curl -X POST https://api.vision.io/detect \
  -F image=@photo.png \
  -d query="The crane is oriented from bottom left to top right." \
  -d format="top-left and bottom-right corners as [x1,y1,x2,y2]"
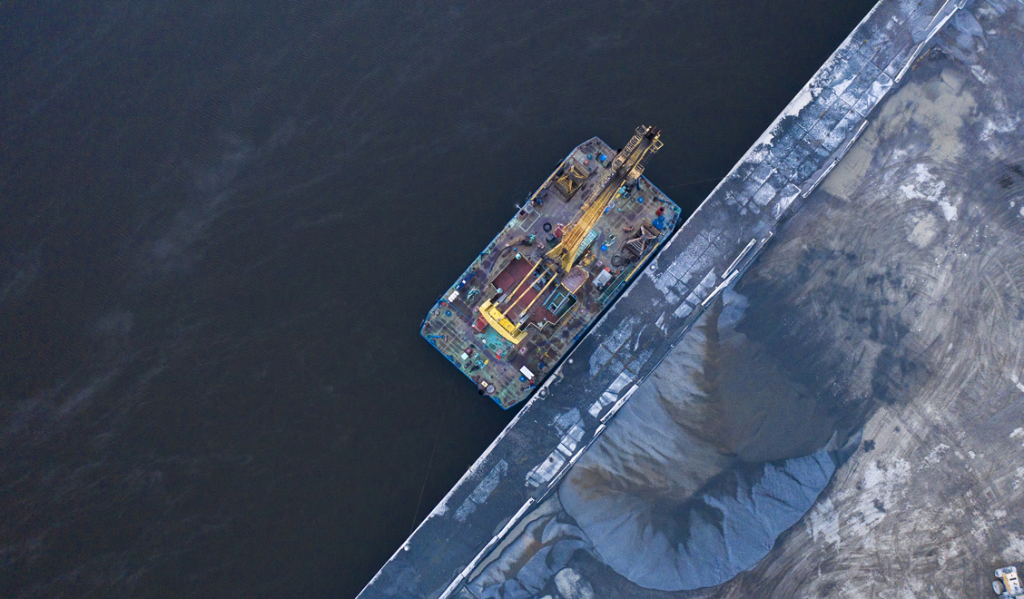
[479,125,664,344]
